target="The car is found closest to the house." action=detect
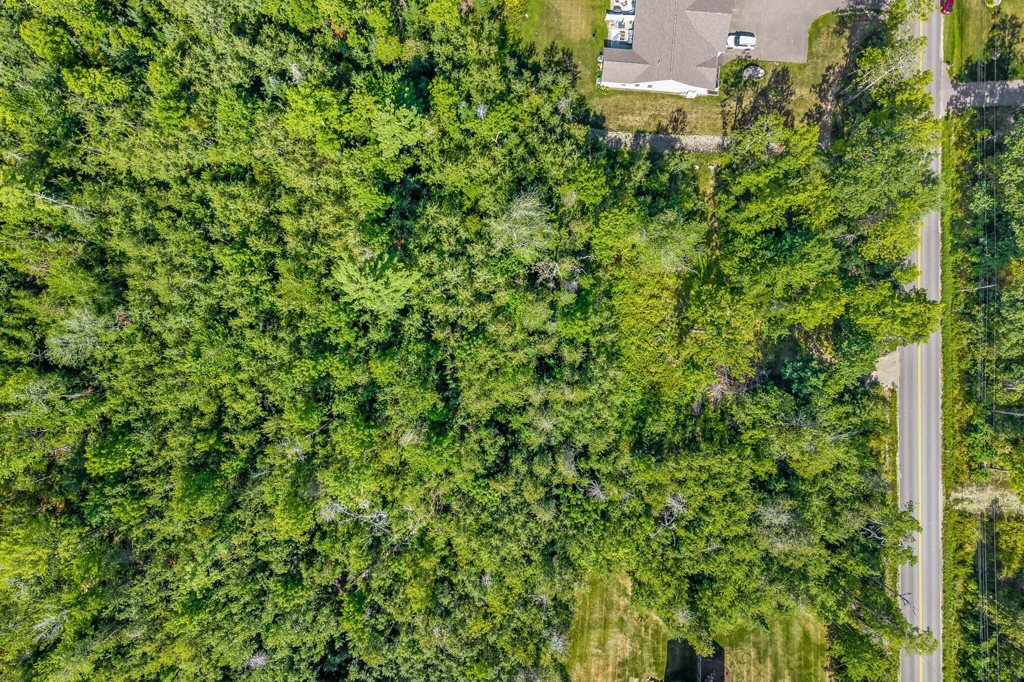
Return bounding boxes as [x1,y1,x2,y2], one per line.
[726,36,756,52]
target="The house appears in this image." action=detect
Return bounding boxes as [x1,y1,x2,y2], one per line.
[601,0,732,97]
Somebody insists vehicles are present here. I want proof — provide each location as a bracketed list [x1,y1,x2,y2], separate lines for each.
[939,0,953,15]
[726,36,756,52]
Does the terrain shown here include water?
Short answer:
No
